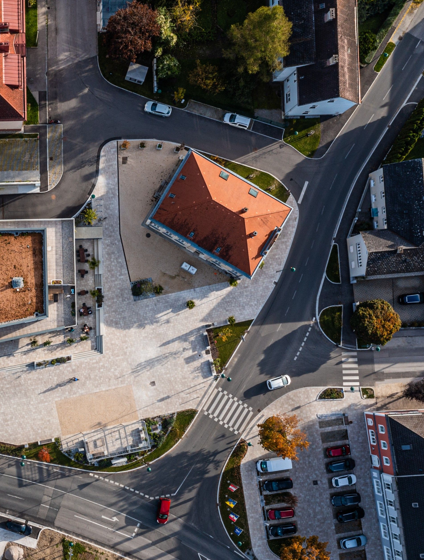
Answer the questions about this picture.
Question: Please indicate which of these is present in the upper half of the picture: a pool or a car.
car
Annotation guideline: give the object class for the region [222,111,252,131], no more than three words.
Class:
car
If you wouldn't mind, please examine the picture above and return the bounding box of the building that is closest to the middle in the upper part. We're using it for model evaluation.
[142,149,294,281]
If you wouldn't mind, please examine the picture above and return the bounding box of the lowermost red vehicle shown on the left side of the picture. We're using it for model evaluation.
[157,498,172,524]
